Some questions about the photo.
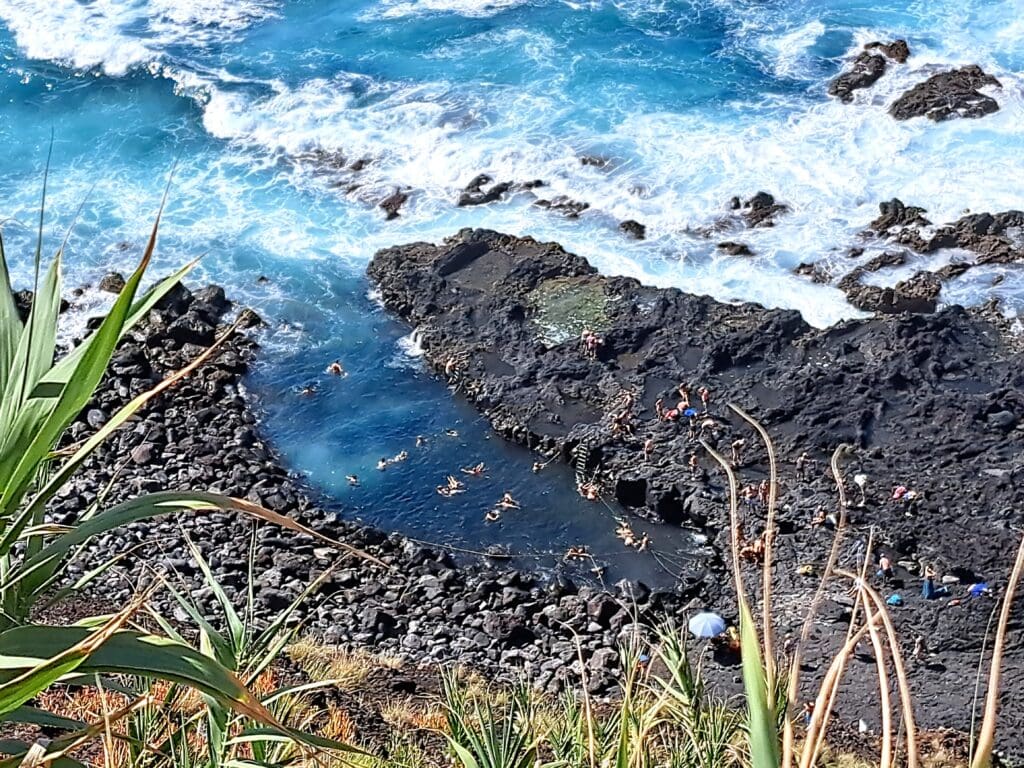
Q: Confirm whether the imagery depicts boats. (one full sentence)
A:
No, the frame has no boat in it.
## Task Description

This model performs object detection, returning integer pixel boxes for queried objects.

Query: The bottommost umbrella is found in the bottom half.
[688,611,731,648]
